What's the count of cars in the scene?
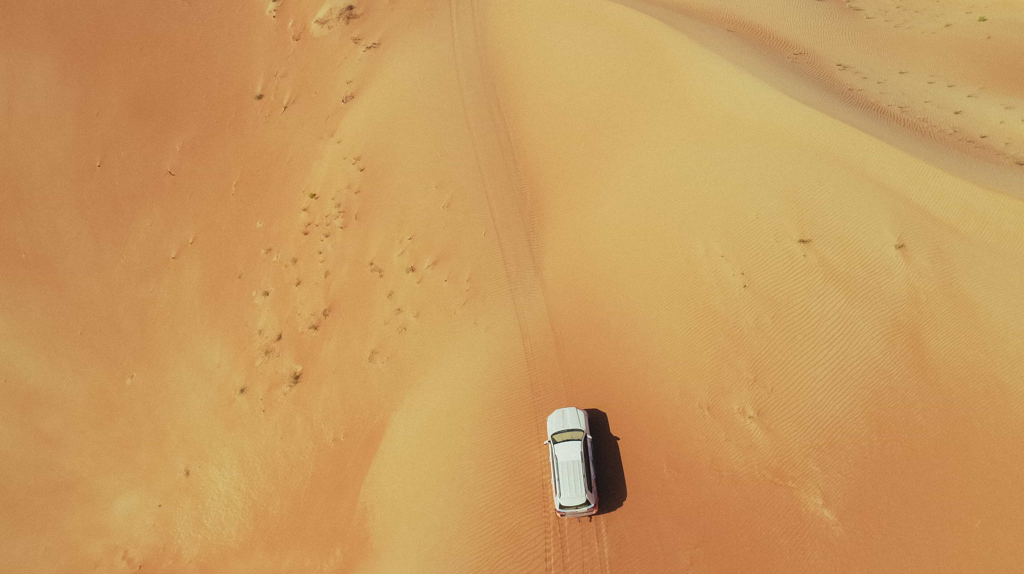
1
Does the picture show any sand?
Yes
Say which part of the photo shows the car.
bottom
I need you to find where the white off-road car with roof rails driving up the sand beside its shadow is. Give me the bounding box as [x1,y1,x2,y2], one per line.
[542,406,598,522]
